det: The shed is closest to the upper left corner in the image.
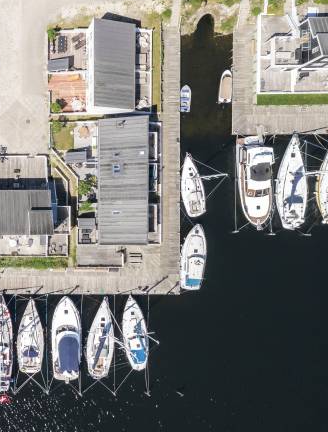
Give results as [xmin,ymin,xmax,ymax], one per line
[47,57,69,73]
